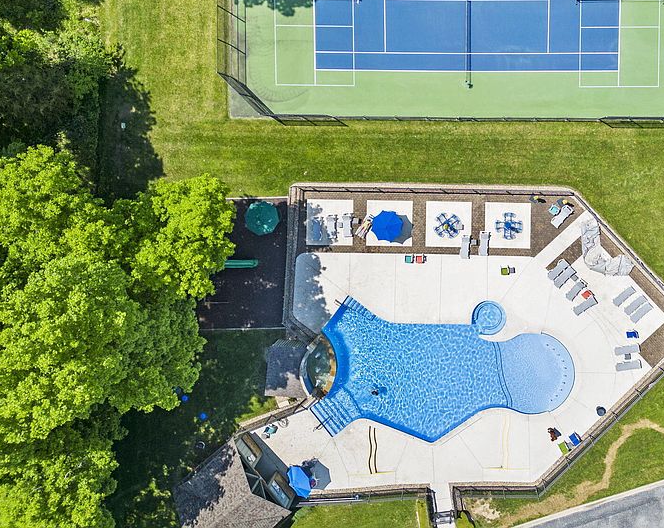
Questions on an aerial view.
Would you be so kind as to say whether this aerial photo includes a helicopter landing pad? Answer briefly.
No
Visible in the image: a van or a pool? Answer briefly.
pool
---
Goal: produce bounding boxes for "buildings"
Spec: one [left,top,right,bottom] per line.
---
[265,340,310,401]
[172,429,299,528]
